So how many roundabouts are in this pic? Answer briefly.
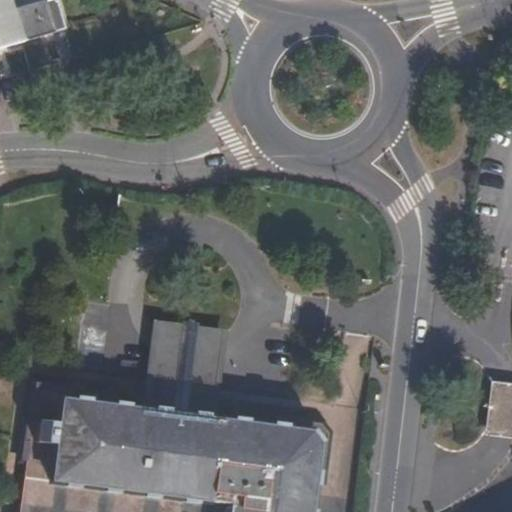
1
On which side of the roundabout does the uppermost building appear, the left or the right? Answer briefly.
left of it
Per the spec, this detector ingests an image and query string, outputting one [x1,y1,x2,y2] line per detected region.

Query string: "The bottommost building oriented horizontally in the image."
[40,395,332,512]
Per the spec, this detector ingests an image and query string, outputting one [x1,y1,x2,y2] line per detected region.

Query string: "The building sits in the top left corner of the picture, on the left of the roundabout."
[0,0,68,52]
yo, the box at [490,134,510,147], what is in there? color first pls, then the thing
white vehicle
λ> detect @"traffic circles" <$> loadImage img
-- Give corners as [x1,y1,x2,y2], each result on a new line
[236,4,408,174]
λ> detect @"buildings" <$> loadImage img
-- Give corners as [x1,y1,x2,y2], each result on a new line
[486,382,512,440]
[40,395,332,512]
[0,0,68,52]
